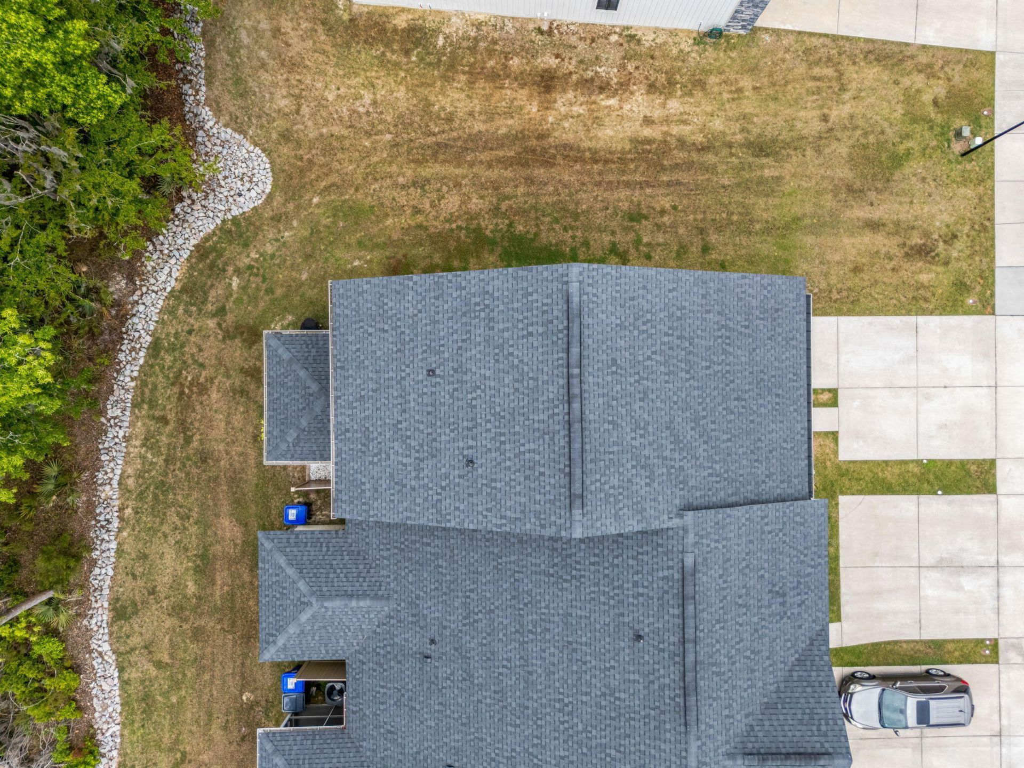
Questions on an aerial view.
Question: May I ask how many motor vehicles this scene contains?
1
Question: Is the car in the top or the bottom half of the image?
bottom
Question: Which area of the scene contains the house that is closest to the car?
bottom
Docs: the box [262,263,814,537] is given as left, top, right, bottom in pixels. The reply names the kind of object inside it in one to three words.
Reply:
house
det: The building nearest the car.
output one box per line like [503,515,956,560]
[256,498,855,768]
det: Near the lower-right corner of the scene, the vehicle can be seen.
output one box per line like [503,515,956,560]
[841,669,977,741]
